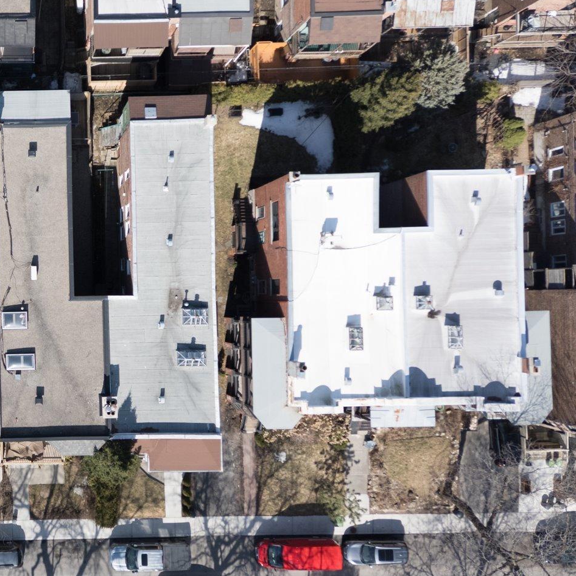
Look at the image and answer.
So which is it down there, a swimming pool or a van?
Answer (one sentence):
Looking from above, you can make out a van.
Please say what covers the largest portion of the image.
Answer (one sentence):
Most of the picture is covered by buildings.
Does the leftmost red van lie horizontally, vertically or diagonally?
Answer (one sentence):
I'd say the leftmost red van is aligned horizontally in the picture.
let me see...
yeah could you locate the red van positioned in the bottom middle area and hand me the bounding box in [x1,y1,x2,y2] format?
[254,535,346,571]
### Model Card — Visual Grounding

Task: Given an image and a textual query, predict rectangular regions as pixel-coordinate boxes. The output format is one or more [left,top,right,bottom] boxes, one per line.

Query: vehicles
[109,538,188,573]
[0,541,23,568]
[486,417,520,478]
[254,535,346,571]
[341,536,406,568]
